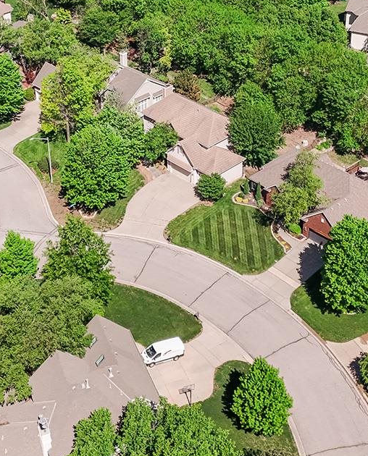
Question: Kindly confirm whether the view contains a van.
Yes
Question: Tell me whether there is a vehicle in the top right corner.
No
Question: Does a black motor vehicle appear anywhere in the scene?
No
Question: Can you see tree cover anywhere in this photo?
Yes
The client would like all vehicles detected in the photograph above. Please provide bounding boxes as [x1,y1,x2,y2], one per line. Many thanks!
[138,330,187,365]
